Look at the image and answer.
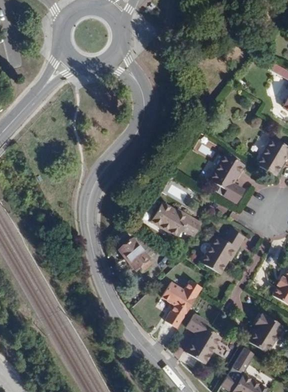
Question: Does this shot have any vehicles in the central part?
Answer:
No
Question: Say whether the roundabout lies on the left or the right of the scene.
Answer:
left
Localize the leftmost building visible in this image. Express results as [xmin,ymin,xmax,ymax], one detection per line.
[118,238,150,268]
